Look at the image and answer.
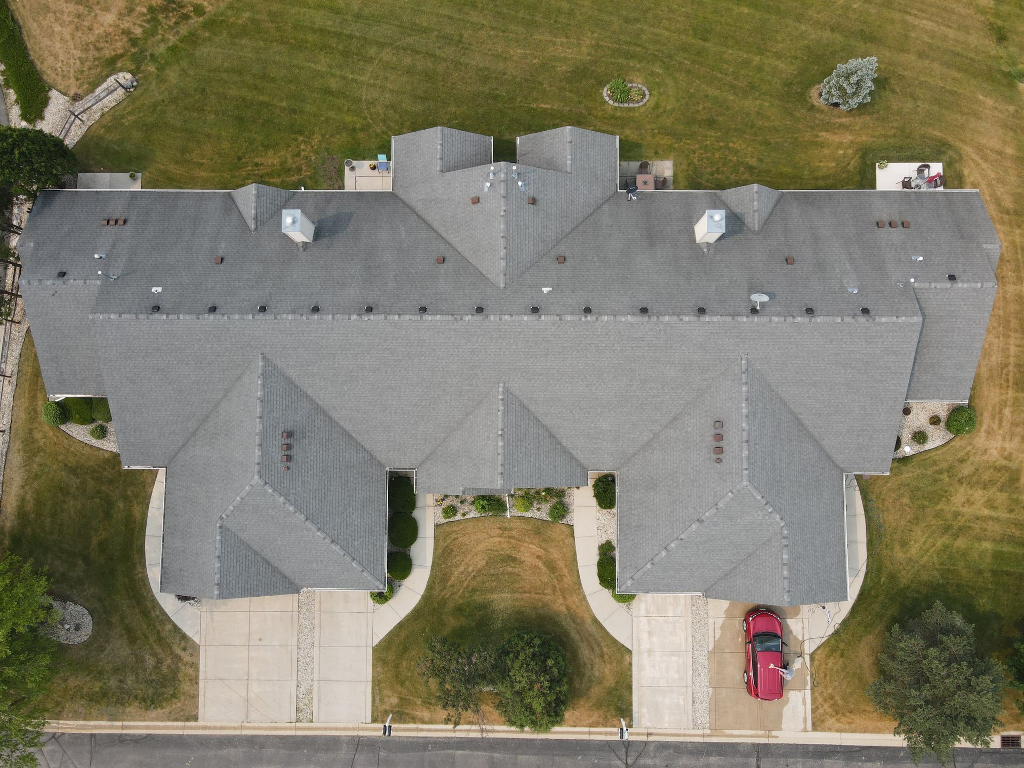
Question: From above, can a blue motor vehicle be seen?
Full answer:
No, there appears to be no blue motor vehicle in this shot.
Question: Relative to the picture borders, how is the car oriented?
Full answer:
In this picture, the car lies from top to bottom.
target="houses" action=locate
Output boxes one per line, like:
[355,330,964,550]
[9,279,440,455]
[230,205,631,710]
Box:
[19,127,1001,606]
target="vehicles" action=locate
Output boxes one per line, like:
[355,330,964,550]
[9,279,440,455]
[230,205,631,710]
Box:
[742,606,789,703]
